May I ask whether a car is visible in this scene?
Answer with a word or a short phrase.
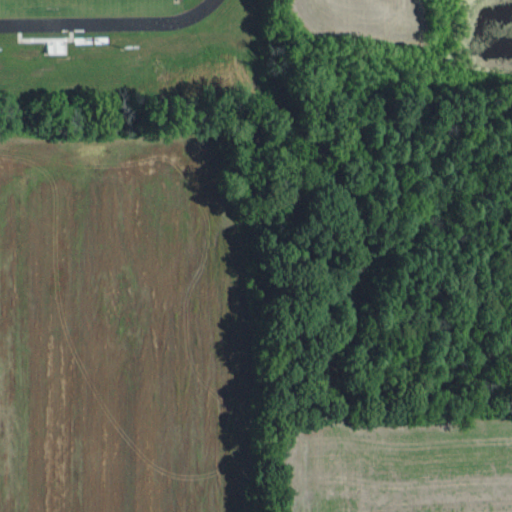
No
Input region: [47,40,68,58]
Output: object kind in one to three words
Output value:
building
